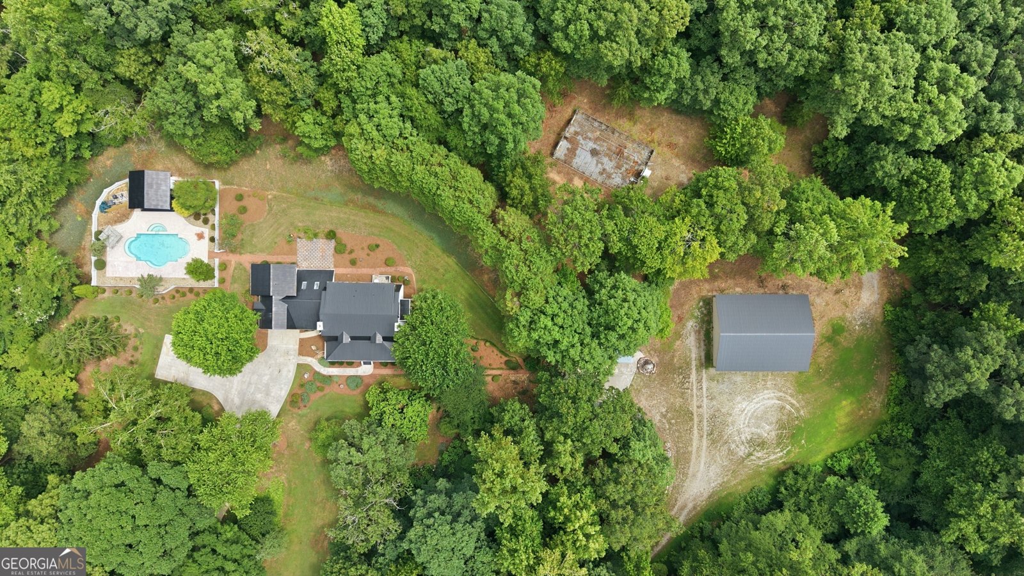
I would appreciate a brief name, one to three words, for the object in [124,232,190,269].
swimming pool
